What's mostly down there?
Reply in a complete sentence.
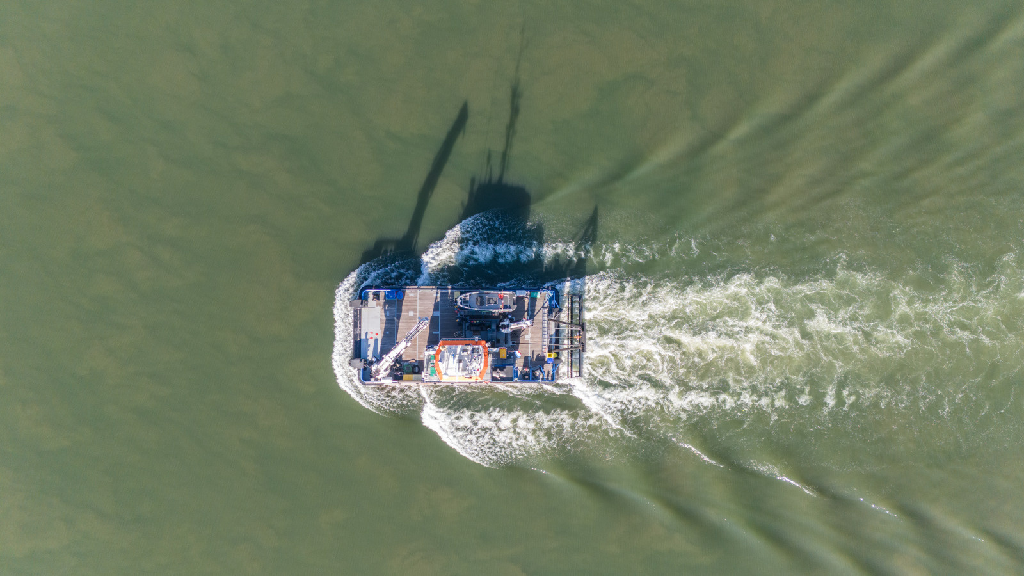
What you mostly see from above here is water.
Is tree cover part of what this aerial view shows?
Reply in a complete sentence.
No, there is no tree cover in the image.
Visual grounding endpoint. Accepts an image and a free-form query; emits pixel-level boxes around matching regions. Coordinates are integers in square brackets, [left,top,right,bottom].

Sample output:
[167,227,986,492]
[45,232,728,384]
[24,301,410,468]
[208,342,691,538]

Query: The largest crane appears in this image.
[367,317,432,380]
